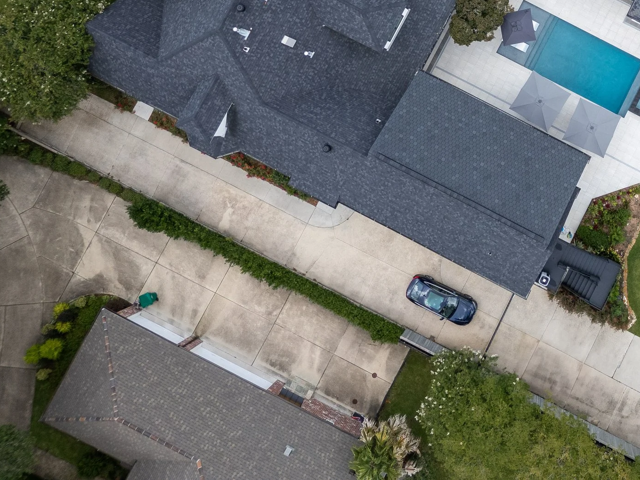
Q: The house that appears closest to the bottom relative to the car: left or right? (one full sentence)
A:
Relative to the car, the house that appears closest to the bottom is on the left.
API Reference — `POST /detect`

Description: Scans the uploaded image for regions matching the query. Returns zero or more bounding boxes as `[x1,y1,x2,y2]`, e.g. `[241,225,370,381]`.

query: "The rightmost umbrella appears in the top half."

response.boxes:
[564,99,622,157]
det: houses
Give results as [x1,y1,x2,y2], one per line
[39,305,365,480]
[86,0,640,299]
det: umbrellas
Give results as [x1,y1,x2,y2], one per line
[503,9,537,47]
[564,99,622,157]
[510,71,570,133]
